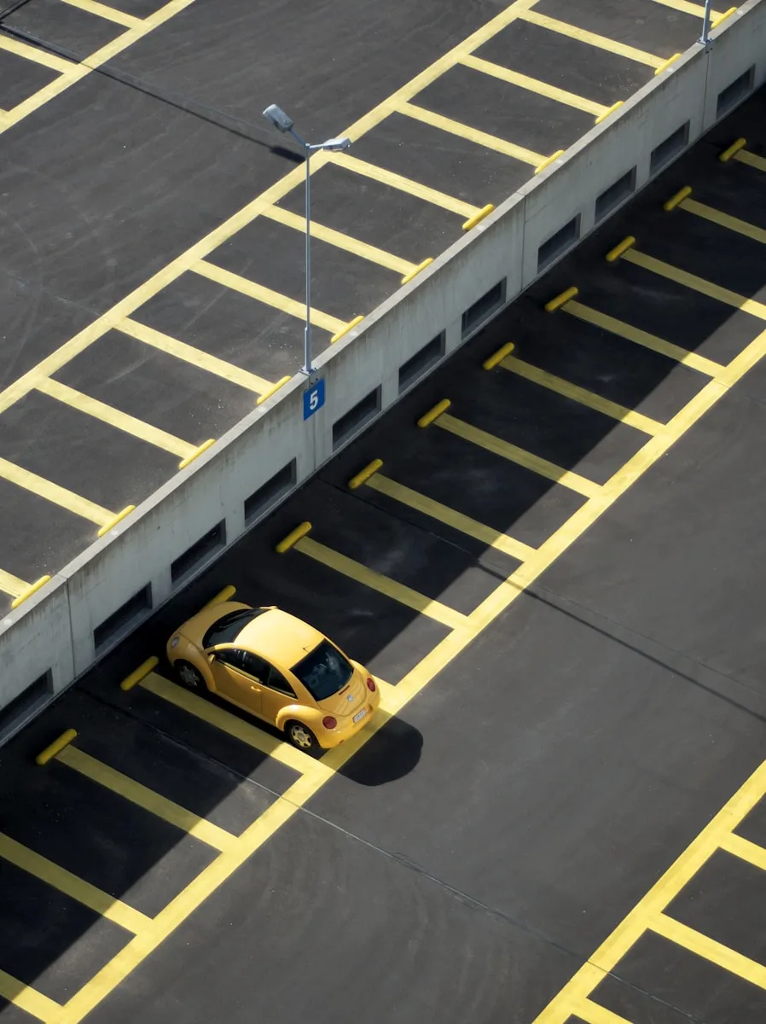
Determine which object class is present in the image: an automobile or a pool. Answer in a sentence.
Of the two, only an automobile appears.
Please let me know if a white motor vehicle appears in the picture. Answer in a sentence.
No, the photo shows no white motor vehicle.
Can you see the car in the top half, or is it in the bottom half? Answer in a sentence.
The car sits in the bottom half of the picture.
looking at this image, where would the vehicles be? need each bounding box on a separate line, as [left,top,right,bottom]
[165,602,381,752]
